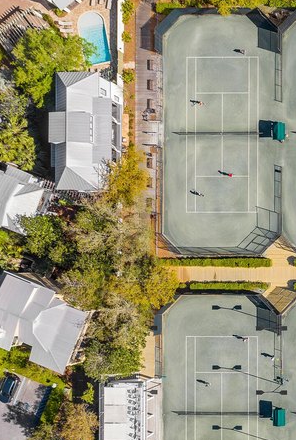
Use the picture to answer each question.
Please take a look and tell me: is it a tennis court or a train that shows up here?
tennis court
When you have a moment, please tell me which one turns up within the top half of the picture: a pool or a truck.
pool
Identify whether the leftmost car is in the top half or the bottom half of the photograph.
bottom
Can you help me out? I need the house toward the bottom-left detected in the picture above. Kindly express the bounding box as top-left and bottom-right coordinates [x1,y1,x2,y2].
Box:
[0,274,98,374]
